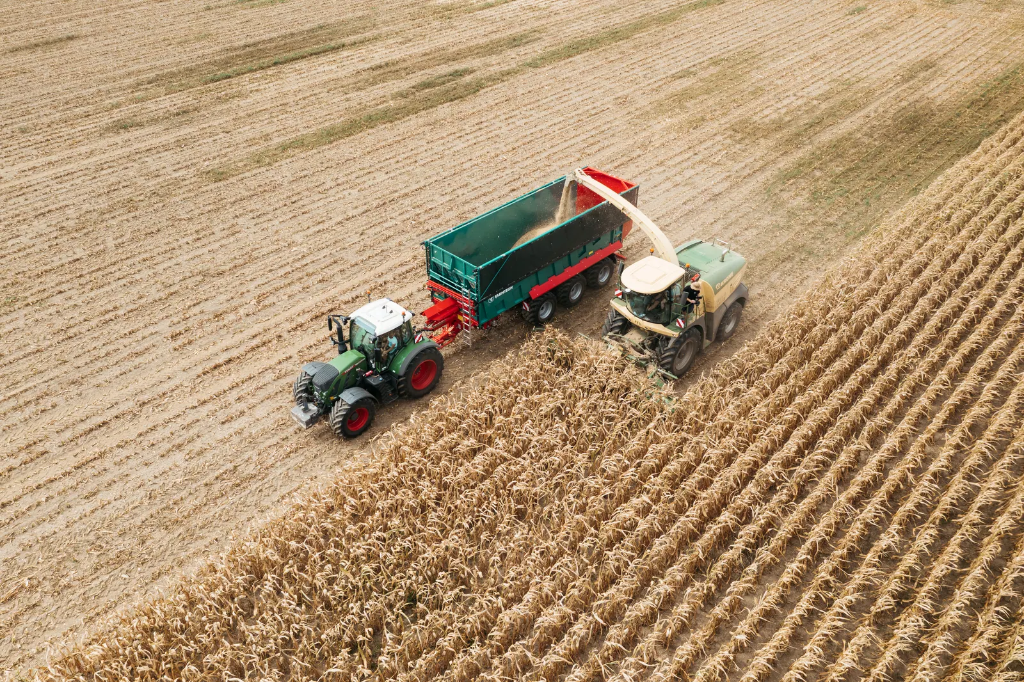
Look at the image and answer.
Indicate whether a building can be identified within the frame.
No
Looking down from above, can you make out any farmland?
Yes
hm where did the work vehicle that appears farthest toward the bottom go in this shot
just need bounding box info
[291,295,447,442]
